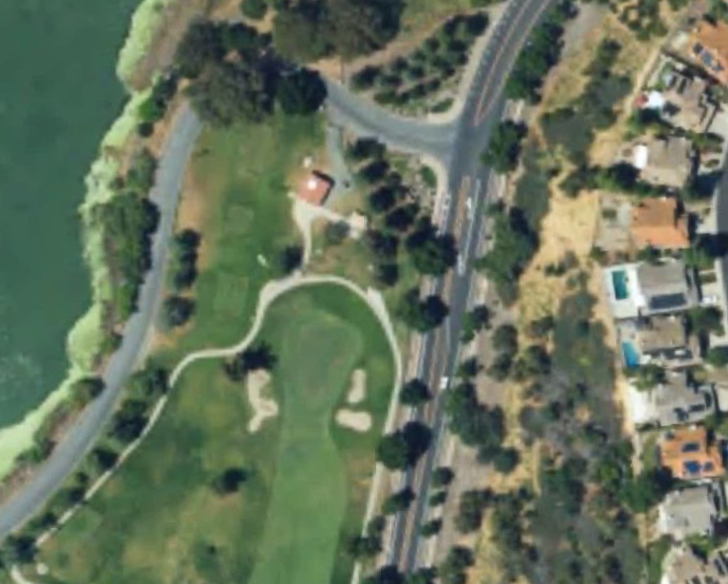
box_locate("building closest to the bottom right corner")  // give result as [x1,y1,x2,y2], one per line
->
[664,546,728,584]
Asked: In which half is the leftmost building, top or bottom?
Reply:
top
